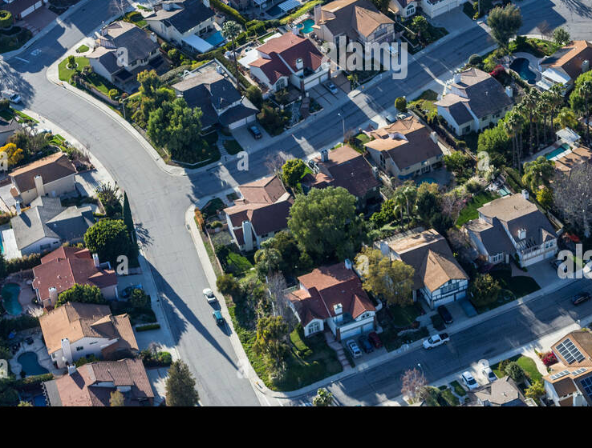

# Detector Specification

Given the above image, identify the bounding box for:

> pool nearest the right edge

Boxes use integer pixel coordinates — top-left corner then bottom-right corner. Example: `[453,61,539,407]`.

[537,138,579,164]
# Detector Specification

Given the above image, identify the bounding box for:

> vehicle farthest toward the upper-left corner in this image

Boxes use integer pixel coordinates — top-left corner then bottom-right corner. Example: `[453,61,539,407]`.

[0,85,23,103]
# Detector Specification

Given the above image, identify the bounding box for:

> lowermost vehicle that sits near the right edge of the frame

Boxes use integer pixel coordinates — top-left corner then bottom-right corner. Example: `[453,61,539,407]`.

[570,292,591,306]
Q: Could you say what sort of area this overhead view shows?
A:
residential area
